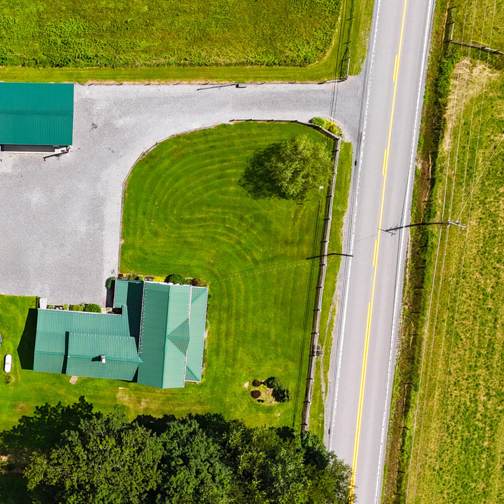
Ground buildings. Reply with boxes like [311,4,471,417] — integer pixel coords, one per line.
[0,82,74,160]
[33,278,209,389]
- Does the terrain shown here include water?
No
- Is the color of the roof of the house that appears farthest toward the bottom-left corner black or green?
green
